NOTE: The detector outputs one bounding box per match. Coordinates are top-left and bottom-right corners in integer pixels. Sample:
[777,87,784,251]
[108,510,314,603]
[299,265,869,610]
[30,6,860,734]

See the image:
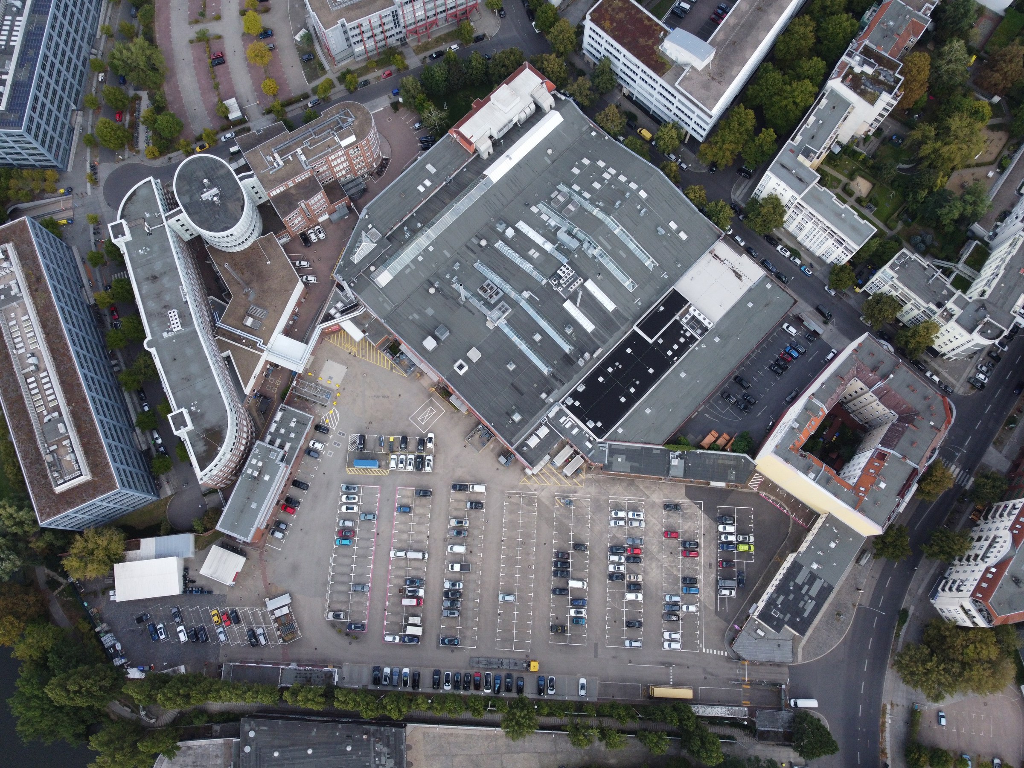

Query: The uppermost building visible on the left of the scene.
[307,0,481,72]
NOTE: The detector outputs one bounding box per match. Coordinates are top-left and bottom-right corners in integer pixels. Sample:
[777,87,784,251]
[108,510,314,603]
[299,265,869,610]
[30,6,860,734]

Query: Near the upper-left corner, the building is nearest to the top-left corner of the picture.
[0,0,100,172]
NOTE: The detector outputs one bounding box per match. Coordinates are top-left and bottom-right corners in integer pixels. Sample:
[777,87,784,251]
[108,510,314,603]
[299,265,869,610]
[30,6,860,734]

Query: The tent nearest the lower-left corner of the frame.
[114,561,185,601]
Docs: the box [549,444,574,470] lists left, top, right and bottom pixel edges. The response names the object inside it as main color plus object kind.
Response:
white truck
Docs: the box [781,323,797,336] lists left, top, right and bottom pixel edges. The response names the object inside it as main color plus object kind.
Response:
white vehicle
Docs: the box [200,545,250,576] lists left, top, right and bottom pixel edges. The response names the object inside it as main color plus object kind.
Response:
white tent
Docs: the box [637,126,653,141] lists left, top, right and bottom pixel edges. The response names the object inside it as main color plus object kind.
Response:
yellow vehicle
